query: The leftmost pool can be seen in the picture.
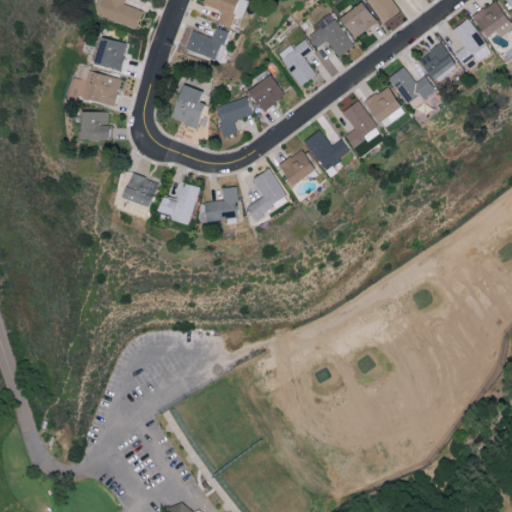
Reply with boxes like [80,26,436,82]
[298,182,316,196]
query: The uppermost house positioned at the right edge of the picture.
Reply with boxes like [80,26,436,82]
[474,2,512,37]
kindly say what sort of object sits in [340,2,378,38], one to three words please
house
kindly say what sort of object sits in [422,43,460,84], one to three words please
house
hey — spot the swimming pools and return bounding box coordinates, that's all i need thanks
[298,182,316,196]
[493,35,508,48]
